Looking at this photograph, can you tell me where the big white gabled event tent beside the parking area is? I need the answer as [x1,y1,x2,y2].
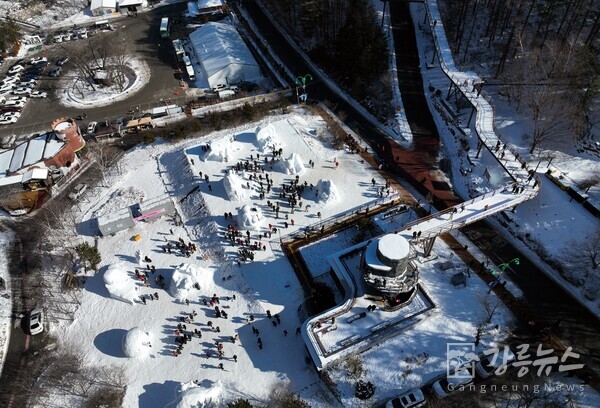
[190,25,261,83]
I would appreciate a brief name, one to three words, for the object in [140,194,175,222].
building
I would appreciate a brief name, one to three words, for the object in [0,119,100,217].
building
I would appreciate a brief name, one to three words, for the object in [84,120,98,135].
car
